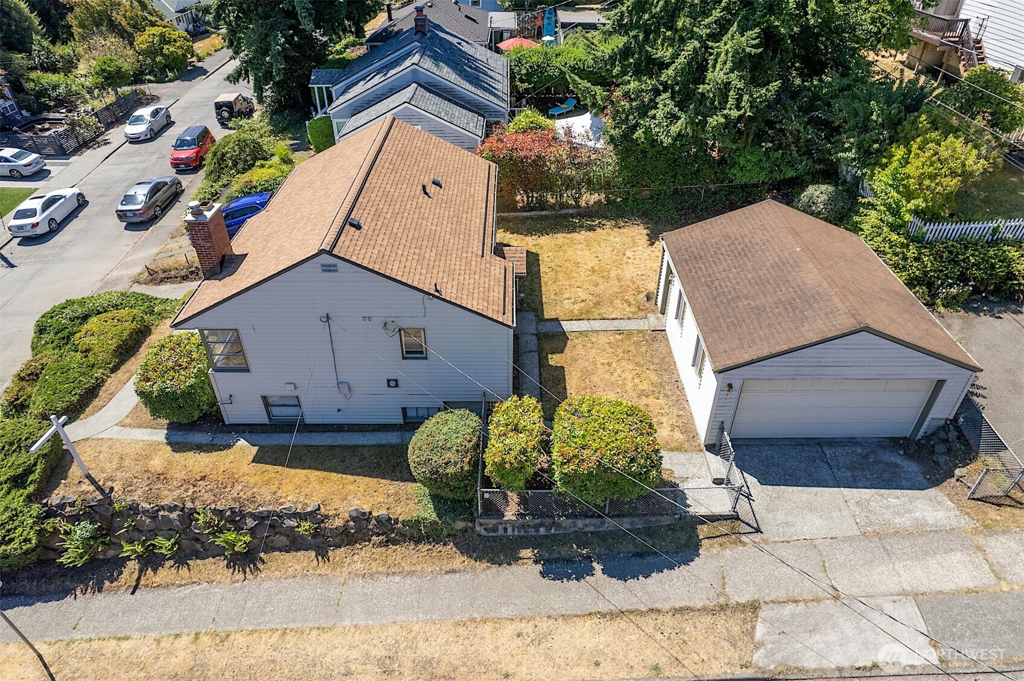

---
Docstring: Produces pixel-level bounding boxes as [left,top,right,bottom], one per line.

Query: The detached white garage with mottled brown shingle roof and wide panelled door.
[657,197,985,447]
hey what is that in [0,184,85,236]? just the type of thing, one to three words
car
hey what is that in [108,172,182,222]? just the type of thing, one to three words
car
